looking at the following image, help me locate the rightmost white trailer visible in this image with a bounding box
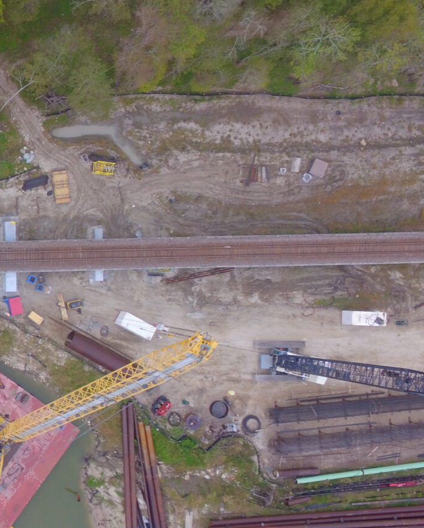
[337,310,388,325]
